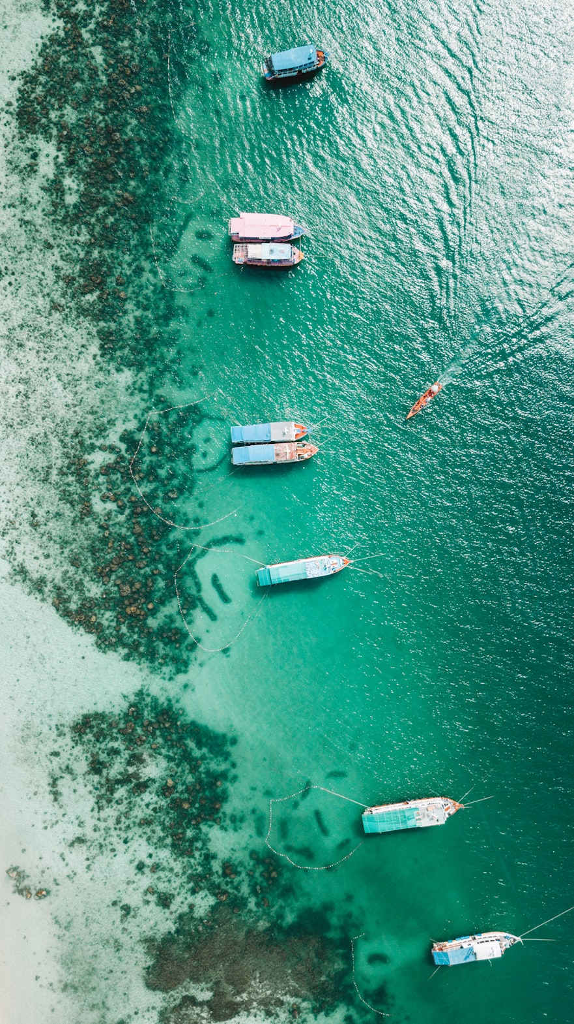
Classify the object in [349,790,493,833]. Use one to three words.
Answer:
boat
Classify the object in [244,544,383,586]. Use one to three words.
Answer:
boat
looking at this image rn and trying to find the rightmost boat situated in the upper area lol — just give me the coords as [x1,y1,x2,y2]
[407,375,446,419]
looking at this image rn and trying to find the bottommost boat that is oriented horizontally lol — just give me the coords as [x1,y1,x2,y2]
[430,906,574,970]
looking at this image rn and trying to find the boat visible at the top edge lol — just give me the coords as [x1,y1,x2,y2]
[262,44,331,82]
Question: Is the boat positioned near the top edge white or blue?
blue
